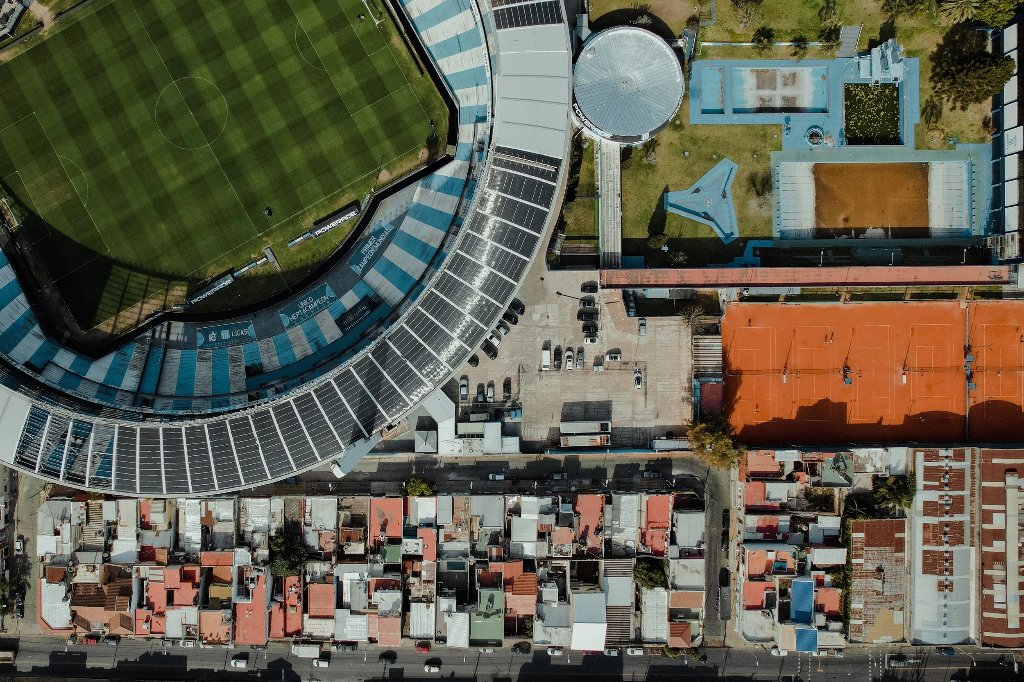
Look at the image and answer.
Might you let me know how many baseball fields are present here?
0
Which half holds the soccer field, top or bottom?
top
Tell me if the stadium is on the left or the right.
left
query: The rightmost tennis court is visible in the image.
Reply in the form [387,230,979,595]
[975,323,1024,420]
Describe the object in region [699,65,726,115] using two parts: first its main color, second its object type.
blue swimming pool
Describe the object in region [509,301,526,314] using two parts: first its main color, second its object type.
black vehicle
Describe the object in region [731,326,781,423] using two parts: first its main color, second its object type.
orange tennis court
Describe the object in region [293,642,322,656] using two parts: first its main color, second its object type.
white vehicle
